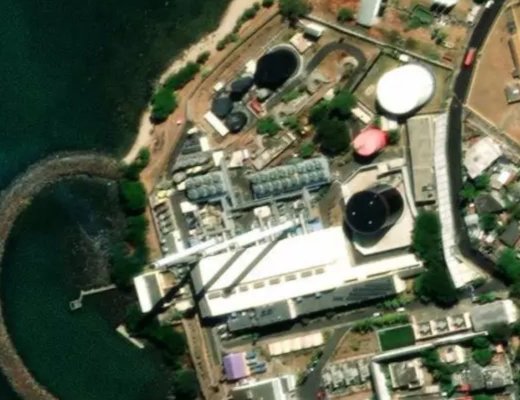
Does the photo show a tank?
Yes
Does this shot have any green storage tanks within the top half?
No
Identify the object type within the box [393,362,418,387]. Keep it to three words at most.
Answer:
house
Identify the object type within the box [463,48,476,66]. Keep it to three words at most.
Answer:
vehicle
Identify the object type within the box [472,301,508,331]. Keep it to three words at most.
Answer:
building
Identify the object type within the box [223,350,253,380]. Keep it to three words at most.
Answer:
house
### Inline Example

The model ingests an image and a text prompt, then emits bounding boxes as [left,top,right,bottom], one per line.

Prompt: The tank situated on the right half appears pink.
[354,125,389,156]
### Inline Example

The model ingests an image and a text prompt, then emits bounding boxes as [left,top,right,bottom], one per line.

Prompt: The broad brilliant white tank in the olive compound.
[378,60,437,115]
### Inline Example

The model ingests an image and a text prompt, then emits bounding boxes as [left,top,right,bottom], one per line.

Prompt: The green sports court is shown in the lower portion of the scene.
[377,323,416,352]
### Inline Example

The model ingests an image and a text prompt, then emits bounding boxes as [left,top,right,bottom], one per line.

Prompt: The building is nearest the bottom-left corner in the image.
[134,271,171,313]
